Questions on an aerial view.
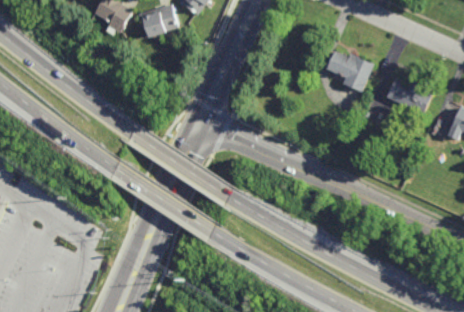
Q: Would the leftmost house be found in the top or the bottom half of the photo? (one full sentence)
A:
It is in the top half that the leftmost house appears.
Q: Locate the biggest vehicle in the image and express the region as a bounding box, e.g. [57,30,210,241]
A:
[34,116,70,145]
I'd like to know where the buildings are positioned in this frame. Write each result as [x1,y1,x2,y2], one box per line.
[178,0,214,16]
[94,0,140,36]
[444,96,464,142]
[390,81,434,113]
[143,4,181,38]
[325,51,374,92]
